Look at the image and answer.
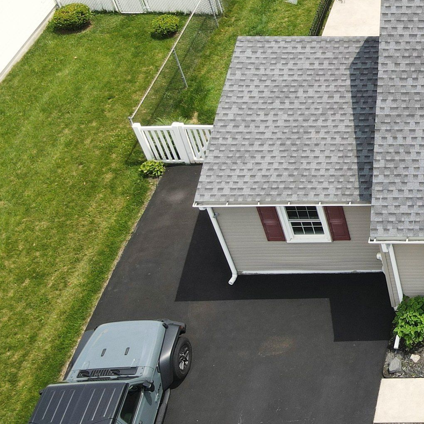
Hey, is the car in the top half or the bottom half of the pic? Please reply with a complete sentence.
The car sits in the bottom half of the picture.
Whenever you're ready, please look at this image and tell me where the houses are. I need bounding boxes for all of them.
[190,0,424,313]
[0,0,60,81]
